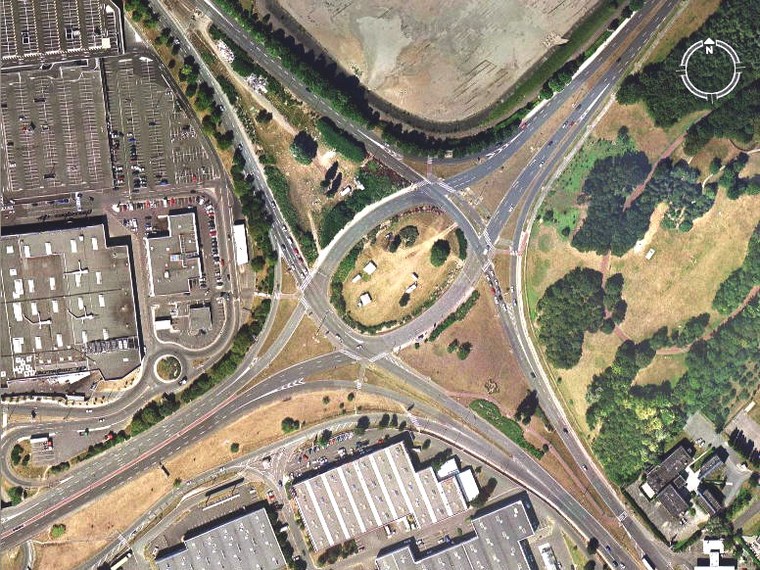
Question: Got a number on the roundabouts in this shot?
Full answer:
The number of roundabouts here is 2.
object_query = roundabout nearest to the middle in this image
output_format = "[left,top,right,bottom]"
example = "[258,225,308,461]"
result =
[304,181,489,361]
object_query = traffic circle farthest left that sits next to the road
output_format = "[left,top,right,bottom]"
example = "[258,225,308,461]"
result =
[143,344,192,393]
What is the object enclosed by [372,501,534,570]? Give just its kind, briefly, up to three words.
building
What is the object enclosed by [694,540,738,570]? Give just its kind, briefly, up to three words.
building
